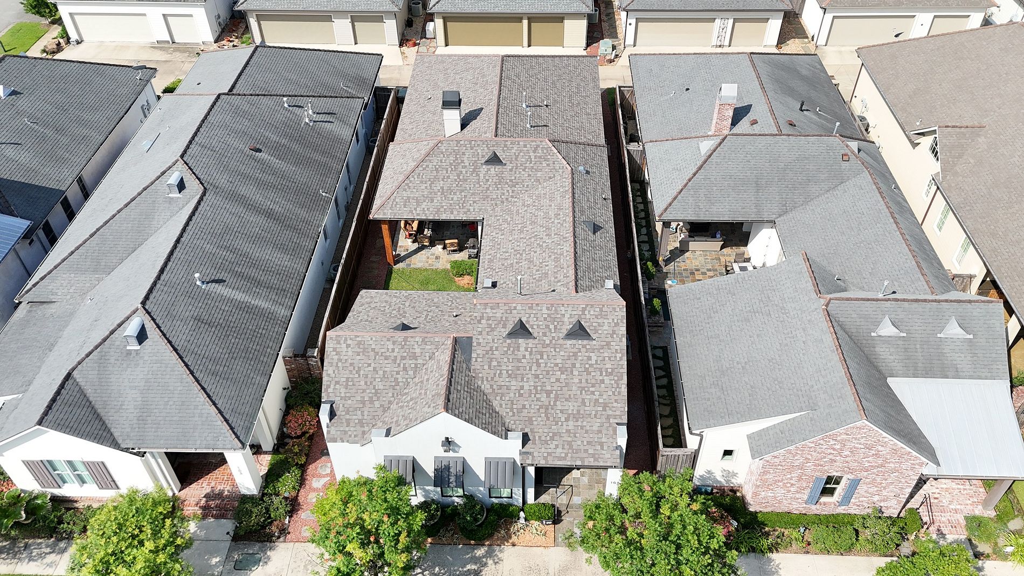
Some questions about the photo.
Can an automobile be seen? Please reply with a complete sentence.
No, this view has no automobile in it.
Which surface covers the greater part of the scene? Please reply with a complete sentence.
What you mostly see from above here is buildings.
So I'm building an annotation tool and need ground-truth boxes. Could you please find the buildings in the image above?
[628,51,1024,533]
[797,0,1001,46]
[0,45,383,518]
[426,0,596,47]
[241,0,410,45]
[46,0,239,43]
[319,54,630,523]
[620,0,794,48]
